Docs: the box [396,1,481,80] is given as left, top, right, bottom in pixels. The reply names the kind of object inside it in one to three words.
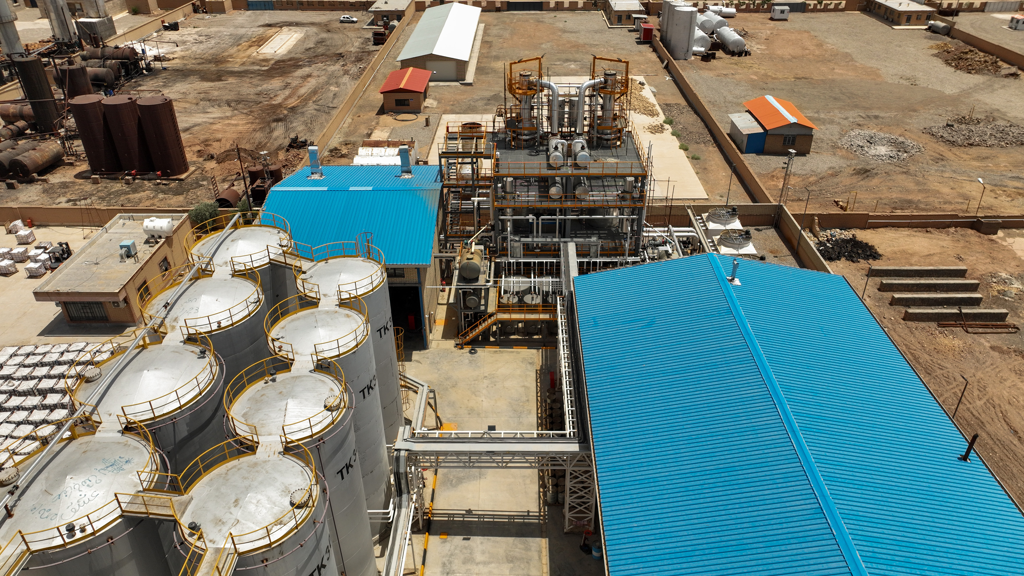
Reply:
shed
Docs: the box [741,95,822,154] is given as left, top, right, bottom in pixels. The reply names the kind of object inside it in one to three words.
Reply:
shed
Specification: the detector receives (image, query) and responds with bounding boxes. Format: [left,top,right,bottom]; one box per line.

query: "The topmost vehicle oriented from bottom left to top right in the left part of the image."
[372,18,397,43]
